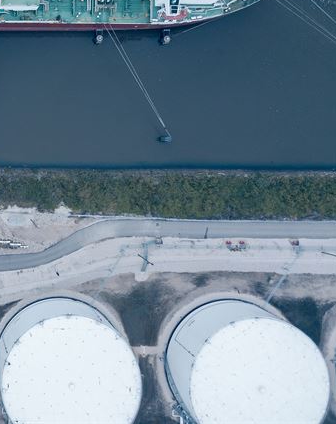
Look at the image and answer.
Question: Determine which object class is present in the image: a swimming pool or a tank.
tank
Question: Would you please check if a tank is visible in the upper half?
No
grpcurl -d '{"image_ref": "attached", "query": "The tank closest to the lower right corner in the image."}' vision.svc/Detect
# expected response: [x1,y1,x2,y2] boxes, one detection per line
[163,298,329,424]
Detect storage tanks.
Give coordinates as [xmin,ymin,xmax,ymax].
[0,298,143,424]
[163,298,329,424]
